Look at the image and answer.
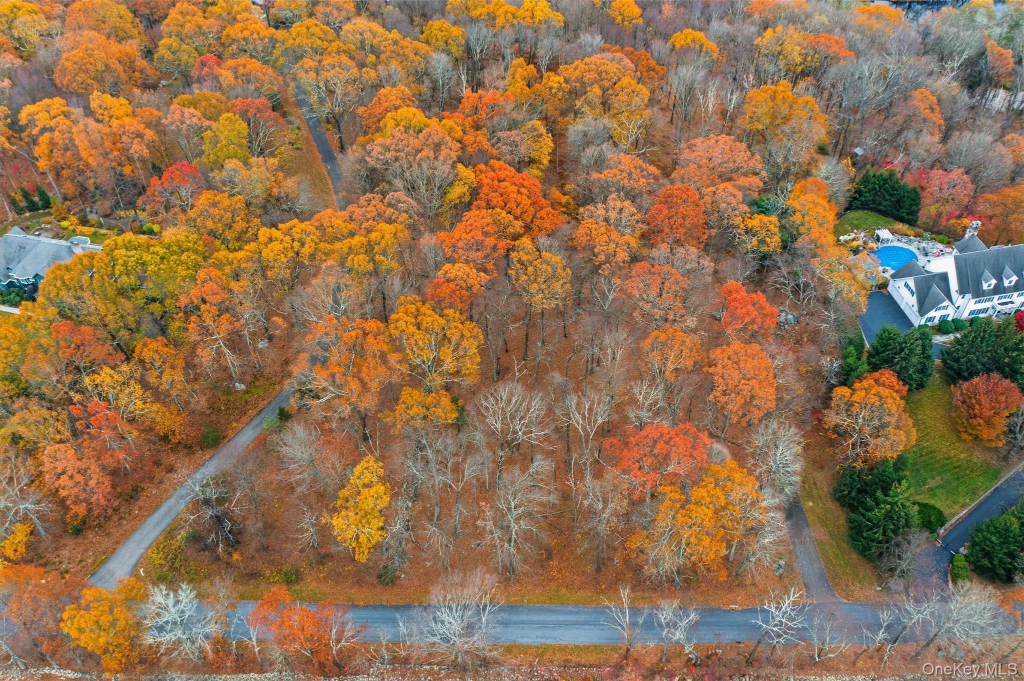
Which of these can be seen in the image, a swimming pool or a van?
swimming pool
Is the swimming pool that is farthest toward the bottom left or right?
right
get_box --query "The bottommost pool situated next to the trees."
[868,243,922,271]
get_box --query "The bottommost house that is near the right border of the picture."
[887,218,1024,325]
